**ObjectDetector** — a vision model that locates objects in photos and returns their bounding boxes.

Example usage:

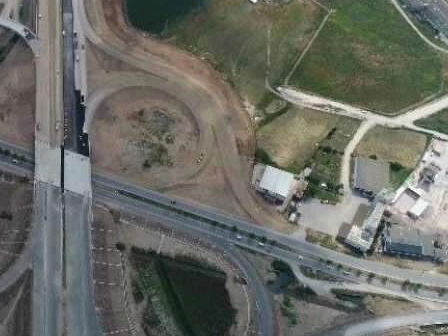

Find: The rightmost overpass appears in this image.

[65,149,92,194]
